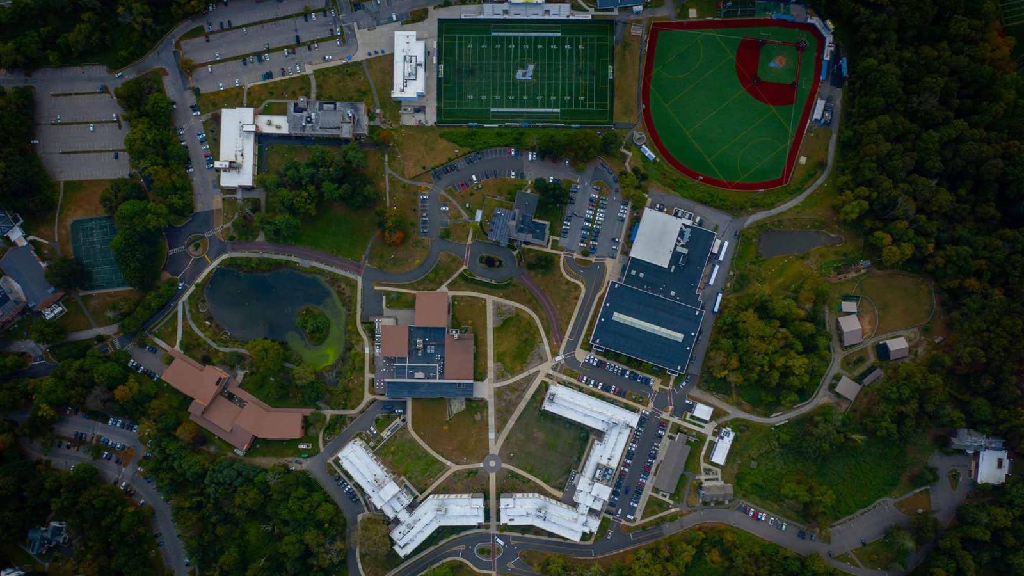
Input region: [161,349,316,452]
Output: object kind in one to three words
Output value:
building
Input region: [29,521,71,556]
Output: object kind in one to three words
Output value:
house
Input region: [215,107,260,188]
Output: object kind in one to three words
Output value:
building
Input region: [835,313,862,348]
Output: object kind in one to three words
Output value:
barn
